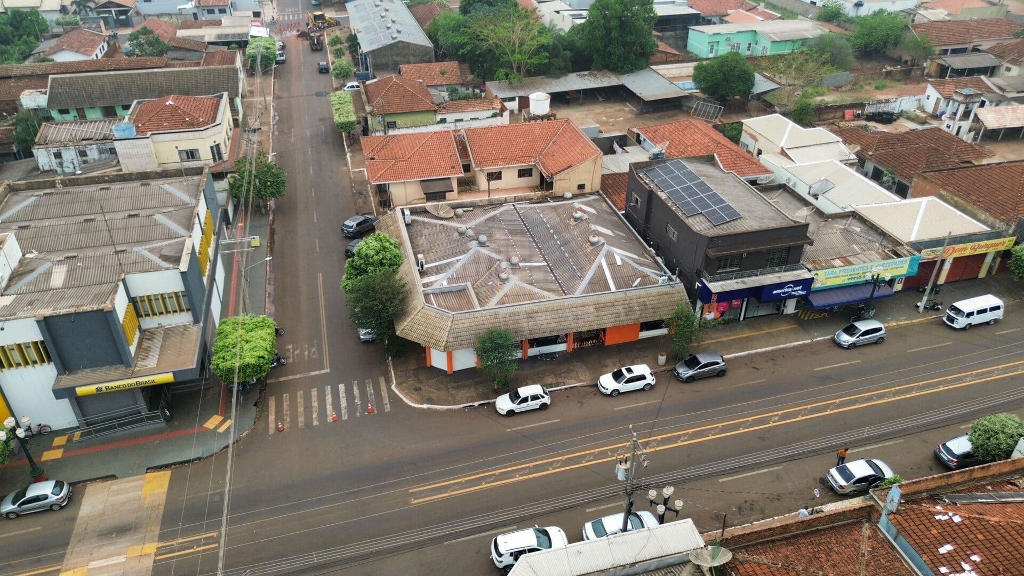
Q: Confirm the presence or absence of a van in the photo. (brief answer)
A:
Yes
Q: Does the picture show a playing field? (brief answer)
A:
No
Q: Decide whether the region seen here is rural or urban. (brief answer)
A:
urban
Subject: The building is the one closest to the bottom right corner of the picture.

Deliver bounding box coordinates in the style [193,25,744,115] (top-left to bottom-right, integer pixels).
[867,455,1024,576]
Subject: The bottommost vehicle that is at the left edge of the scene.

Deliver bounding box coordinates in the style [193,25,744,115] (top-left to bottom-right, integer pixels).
[0,477,74,518]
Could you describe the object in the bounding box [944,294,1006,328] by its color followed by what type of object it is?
white van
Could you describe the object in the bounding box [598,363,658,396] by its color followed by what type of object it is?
white car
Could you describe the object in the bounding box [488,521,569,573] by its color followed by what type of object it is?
white car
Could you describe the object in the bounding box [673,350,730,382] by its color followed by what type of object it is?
gray car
